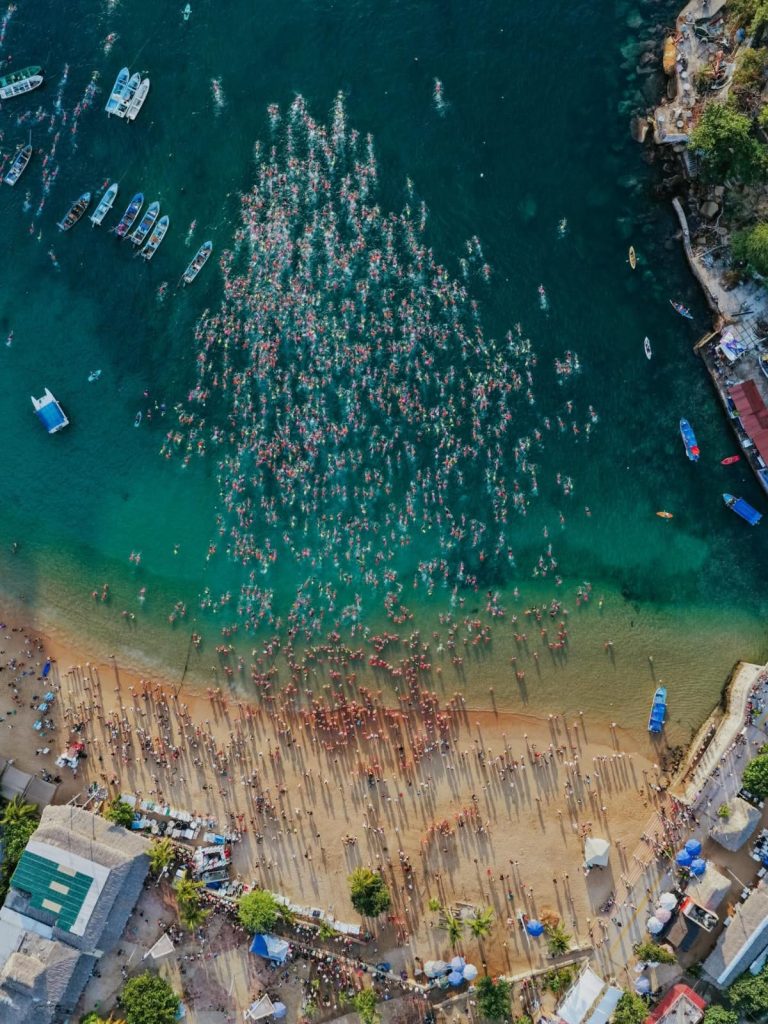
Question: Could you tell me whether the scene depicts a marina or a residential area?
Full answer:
The picture captures a marina.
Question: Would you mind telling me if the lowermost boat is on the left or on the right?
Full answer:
You can find the lowermost boat on the right side of the picture.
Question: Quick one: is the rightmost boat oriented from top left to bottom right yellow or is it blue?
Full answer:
The color of the rightmost boat oriented from top left to bottom right is blue.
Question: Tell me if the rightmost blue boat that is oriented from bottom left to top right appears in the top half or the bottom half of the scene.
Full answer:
The rightmost blue boat that is oriented from bottom left to top right sits in the top half of the picture.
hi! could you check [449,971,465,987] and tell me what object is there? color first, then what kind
blue umbrella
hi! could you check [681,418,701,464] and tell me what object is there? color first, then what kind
blue boat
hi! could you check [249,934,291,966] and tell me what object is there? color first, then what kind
blue tent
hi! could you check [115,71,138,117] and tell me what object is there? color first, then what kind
blue boat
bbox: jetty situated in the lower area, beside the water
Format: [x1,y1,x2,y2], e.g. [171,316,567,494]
[667,659,764,799]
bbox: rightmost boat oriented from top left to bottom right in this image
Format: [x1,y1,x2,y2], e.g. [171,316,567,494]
[724,493,766,528]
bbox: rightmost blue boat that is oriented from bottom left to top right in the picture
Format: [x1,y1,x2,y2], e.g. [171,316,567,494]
[181,239,212,284]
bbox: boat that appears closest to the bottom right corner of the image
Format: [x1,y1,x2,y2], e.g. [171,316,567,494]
[647,684,668,736]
